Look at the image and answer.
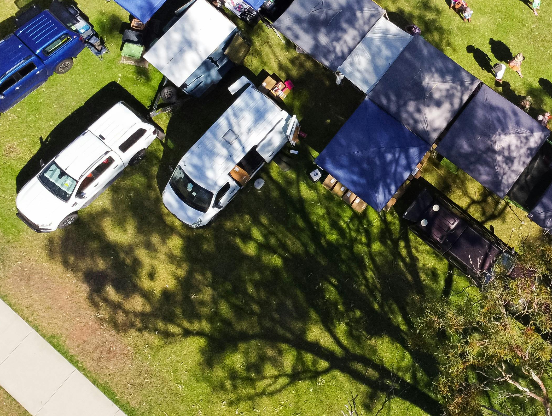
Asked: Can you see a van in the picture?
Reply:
Yes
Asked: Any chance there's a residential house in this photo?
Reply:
No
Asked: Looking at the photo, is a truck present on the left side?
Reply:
Yes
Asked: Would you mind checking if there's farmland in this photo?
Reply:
No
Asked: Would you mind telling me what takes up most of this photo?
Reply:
grass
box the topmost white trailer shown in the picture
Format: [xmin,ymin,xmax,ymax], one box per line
[145,0,251,118]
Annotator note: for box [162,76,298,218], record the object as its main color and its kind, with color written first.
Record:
white van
